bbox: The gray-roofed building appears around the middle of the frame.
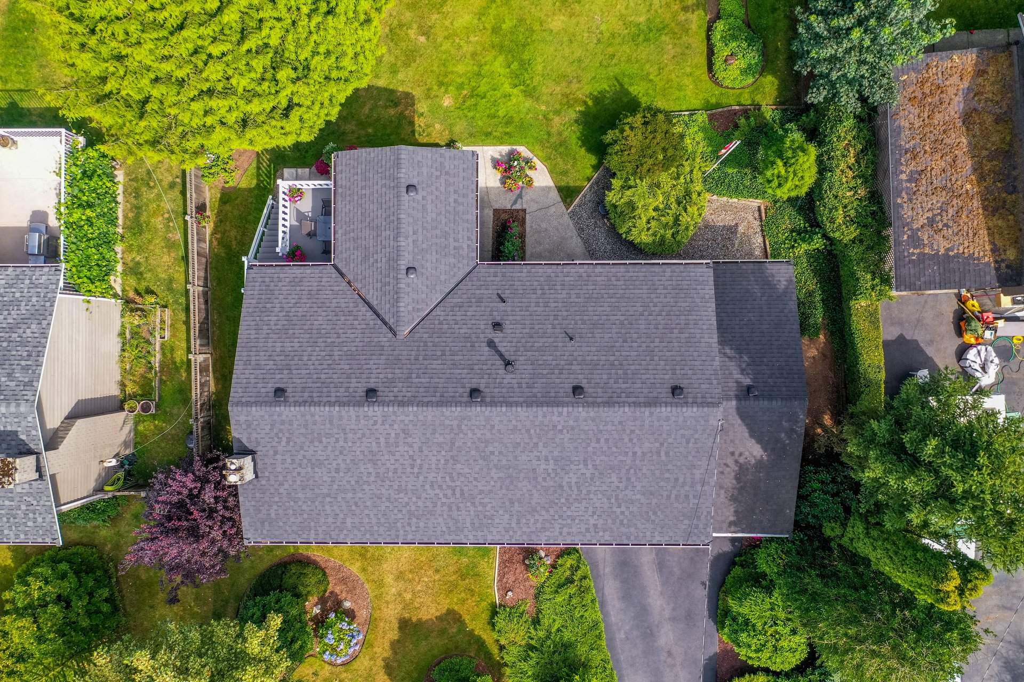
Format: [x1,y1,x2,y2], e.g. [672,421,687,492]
[222,146,809,547]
